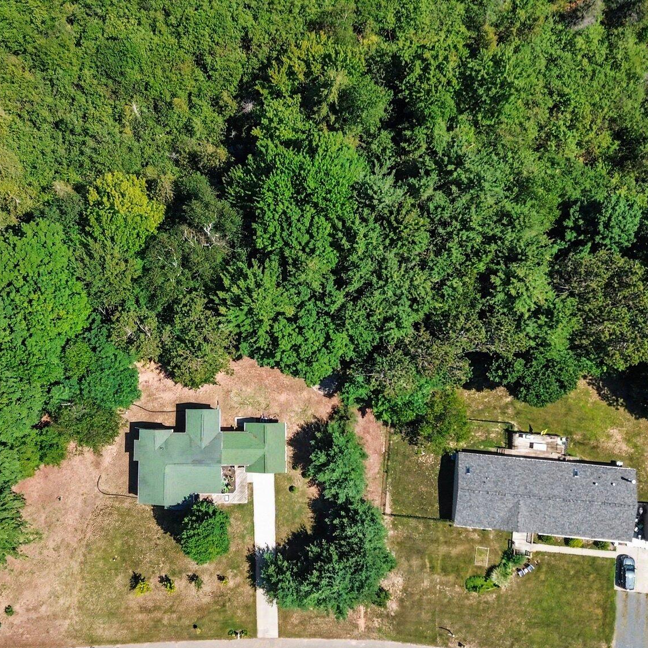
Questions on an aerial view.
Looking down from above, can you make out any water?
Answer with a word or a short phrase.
No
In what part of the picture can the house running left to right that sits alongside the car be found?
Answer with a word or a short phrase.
bottom right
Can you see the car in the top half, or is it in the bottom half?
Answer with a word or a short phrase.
bottom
